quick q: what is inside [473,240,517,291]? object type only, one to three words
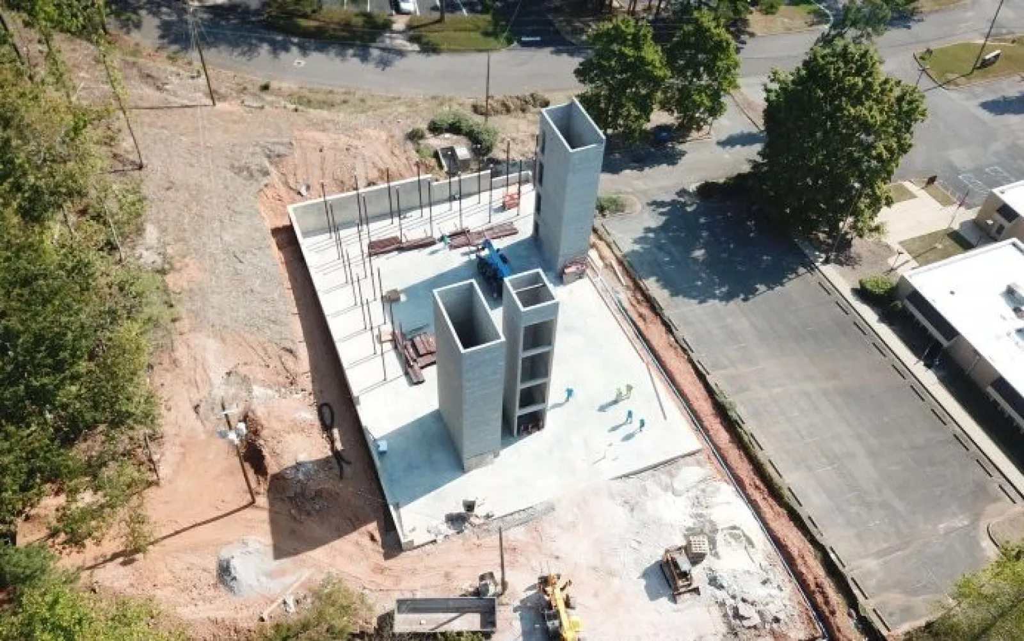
work vehicle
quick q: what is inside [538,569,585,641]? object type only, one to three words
work vehicle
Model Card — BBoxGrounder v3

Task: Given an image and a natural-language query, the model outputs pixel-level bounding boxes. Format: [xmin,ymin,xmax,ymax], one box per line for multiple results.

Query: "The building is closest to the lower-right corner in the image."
[896,234,1024,449]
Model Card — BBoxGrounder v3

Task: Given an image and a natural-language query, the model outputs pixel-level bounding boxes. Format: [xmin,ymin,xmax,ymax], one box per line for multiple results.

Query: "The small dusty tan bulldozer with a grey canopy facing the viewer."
[656,540,705,604]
